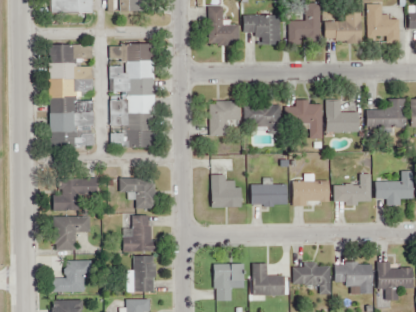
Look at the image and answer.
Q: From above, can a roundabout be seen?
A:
No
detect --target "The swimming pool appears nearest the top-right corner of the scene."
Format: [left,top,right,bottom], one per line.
[328,137,352,152]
